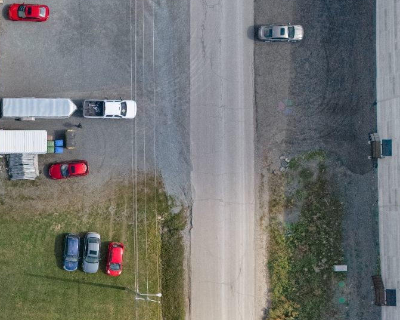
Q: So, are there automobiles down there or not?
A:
Yes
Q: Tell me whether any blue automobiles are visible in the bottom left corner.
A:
Yes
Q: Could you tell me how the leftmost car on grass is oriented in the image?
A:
from top to bottom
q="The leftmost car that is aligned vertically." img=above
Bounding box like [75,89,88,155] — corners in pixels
[61,232,82,272]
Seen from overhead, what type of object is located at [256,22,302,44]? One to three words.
car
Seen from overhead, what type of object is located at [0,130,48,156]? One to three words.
shipping container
